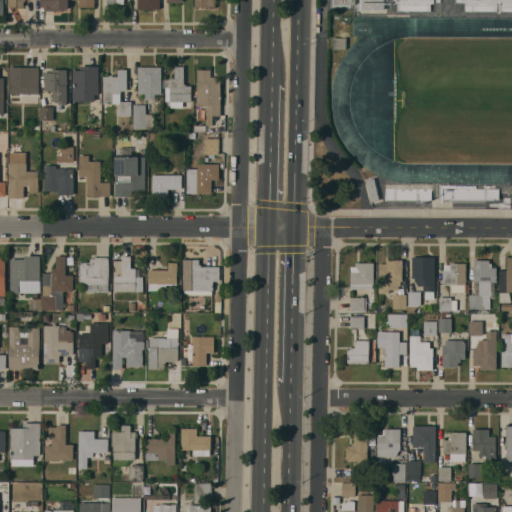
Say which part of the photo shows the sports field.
top right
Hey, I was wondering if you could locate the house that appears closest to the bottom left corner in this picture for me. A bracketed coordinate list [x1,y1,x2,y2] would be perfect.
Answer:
[12,484,42,506]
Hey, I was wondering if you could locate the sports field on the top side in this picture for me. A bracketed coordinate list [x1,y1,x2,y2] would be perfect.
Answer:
[394,36,512,164]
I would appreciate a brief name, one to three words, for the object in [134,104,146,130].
building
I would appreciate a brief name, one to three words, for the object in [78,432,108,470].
house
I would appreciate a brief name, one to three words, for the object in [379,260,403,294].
house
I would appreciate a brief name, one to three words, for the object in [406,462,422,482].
building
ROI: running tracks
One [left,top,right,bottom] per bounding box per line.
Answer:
[332,18,512,183]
